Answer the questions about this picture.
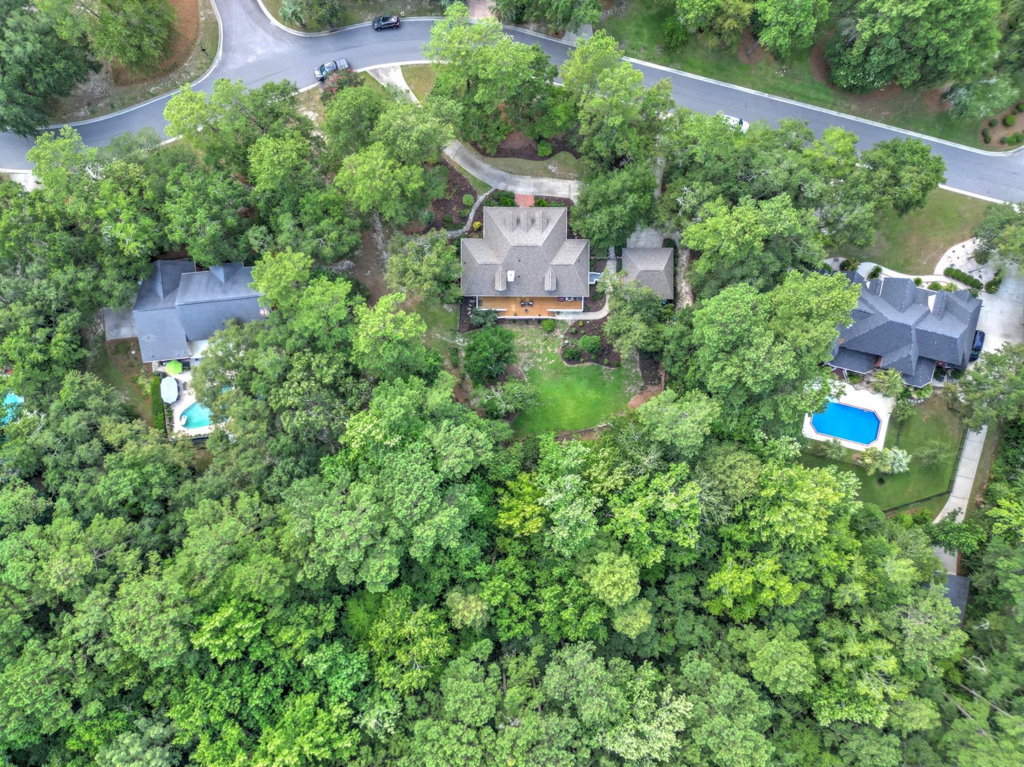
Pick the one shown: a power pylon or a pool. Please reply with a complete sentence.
This aerial view contains a pool.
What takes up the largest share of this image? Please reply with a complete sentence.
The bulk of the photo consists of trees.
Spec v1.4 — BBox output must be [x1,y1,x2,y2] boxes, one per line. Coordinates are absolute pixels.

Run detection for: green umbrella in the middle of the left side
[167,359,184,377]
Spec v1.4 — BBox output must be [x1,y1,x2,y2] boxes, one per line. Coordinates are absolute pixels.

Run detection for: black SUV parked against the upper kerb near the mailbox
[373,12,401,30]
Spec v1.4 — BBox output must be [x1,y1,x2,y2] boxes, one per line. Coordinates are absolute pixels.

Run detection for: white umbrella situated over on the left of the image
[162,376,180,404]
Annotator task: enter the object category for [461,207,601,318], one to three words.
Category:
house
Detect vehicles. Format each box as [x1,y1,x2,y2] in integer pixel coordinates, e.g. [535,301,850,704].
[726,115,750,131]
[373,12,401,30]
[971,332,991,361]
[314,59,348,79]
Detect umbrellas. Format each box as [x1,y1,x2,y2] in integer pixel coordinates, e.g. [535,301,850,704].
[162,376,180,404]
[167,359,184,377]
